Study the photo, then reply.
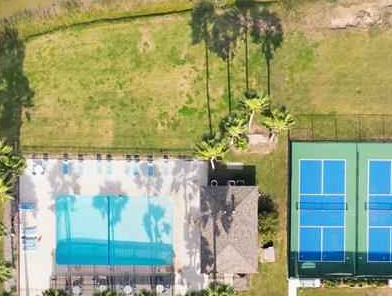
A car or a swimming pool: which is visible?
swimming pool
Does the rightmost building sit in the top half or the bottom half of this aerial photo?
bottom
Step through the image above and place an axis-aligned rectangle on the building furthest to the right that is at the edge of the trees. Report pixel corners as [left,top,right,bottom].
[201,186,258,274]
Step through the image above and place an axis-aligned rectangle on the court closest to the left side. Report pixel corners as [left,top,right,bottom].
[290,140,357,276]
